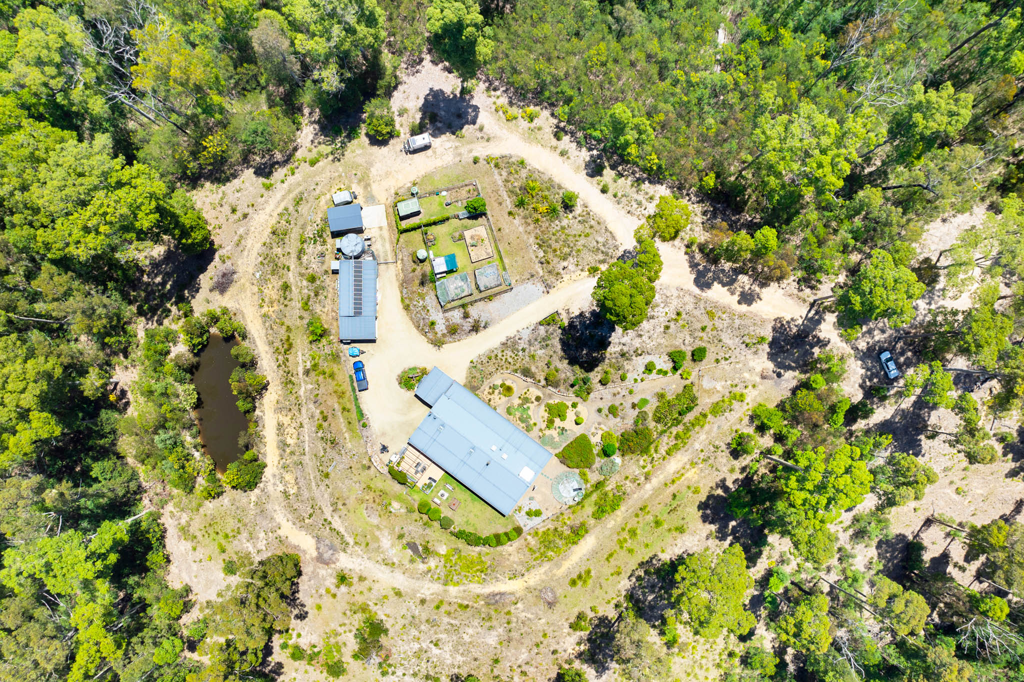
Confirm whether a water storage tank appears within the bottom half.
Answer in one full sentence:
No, I see no water storage tank within the bottom half.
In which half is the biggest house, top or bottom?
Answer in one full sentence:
The bottom half of the photo is where the biggest house is.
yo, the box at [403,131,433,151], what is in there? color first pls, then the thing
white camper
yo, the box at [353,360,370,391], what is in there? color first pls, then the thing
blue vehicle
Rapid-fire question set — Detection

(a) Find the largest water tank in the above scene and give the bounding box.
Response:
[340,233,366,260]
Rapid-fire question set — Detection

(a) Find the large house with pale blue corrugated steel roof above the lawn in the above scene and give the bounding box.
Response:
[408,381,554,516]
